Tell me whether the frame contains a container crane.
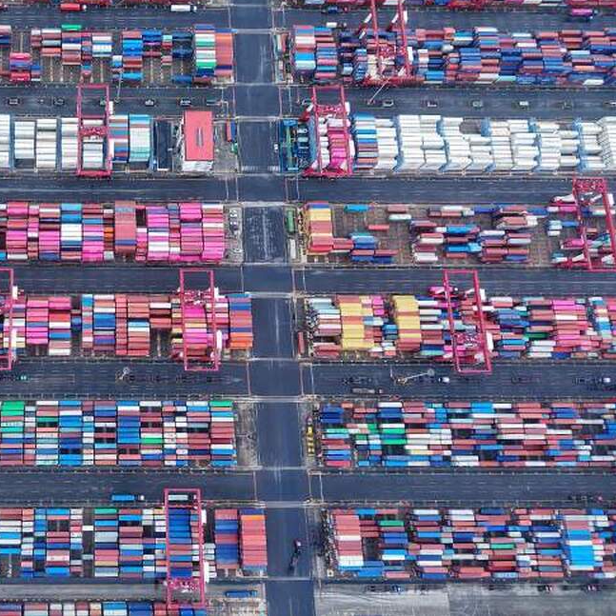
Yes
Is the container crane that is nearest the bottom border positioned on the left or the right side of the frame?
left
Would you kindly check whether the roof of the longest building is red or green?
red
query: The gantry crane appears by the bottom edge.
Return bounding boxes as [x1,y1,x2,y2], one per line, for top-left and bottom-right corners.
[153,490,213,606]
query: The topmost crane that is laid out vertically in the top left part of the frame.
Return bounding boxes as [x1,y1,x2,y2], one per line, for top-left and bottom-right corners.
[69,86,116,176]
